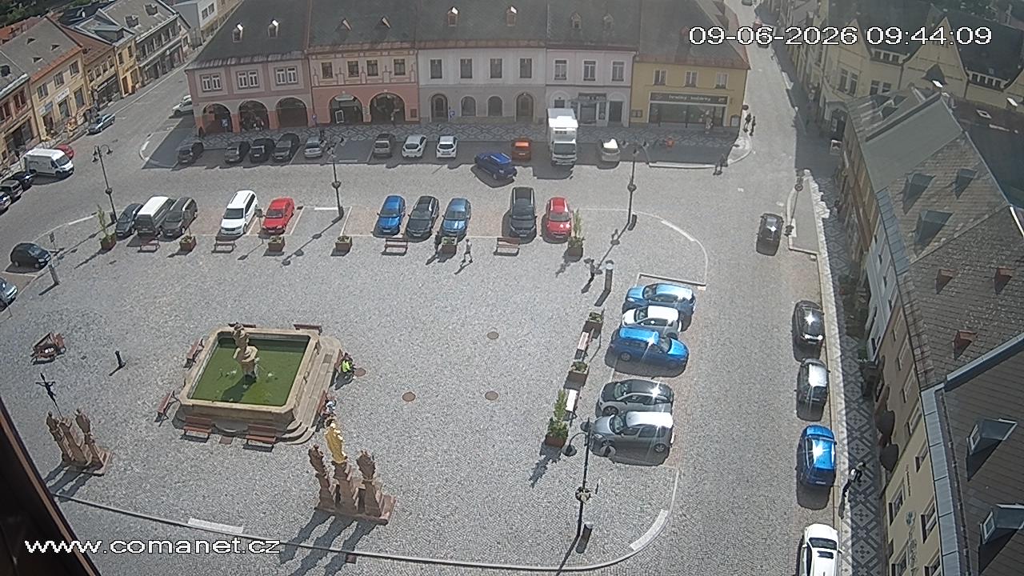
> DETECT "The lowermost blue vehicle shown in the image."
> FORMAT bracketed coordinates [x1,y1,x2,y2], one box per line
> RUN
[798,424,845,485]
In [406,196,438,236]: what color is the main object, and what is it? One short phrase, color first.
gray car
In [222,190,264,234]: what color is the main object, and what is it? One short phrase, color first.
white car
